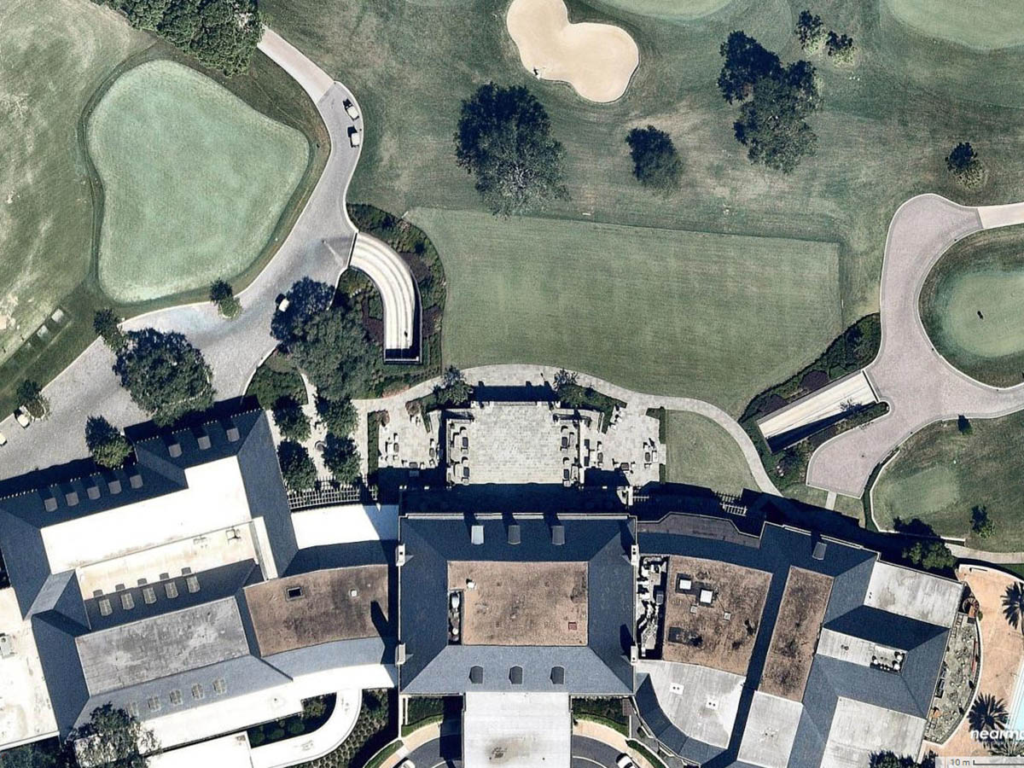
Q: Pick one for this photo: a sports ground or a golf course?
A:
golf course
